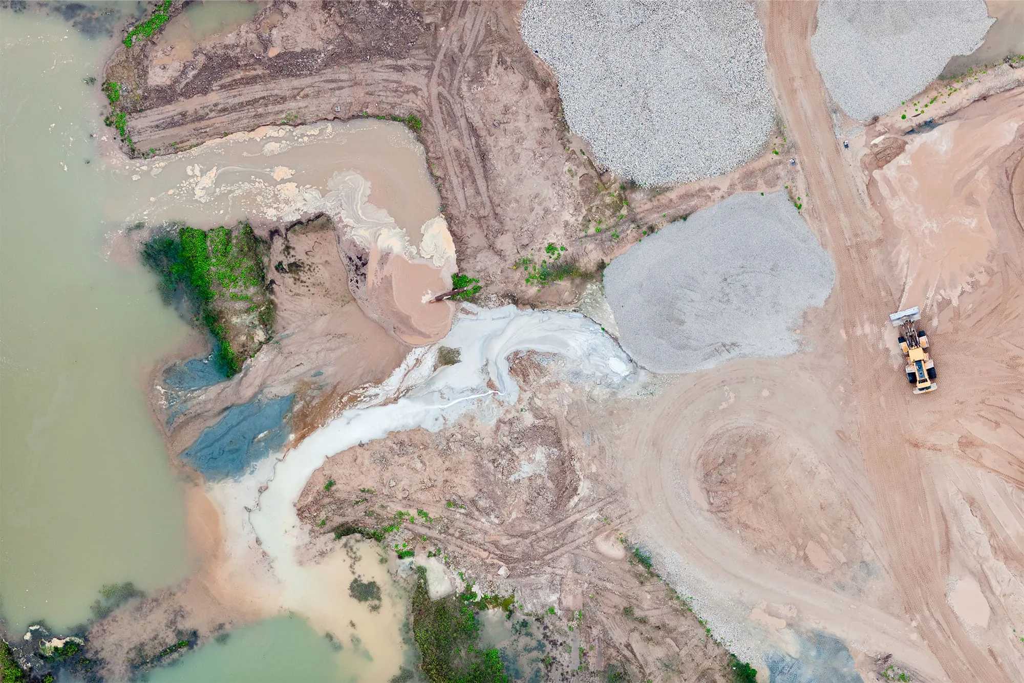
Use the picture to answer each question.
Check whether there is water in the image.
Yes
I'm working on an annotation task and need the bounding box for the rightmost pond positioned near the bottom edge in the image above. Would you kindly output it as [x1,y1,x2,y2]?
[478,604,563,683]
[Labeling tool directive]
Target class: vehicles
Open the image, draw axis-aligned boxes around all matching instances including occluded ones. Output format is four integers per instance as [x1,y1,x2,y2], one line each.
[889,305,939,394]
